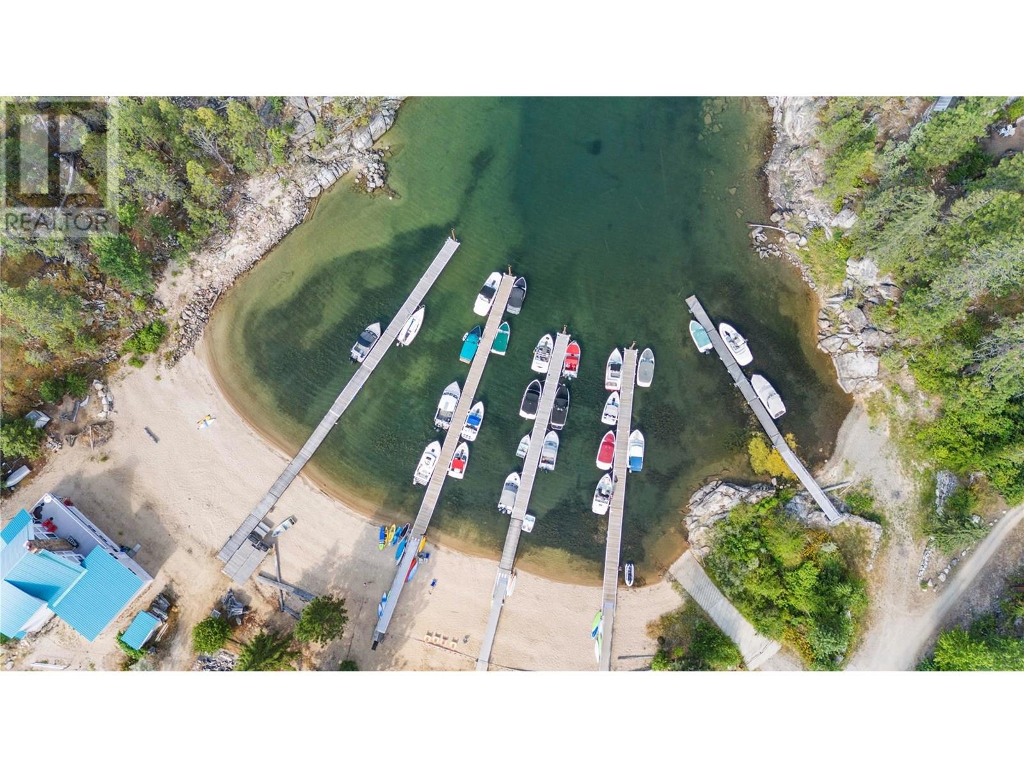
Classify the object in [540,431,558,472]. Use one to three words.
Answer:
boat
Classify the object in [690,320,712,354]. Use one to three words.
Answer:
boat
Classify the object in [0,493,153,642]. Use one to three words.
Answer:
house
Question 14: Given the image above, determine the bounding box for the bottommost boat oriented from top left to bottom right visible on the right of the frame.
[752,375,786,419]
